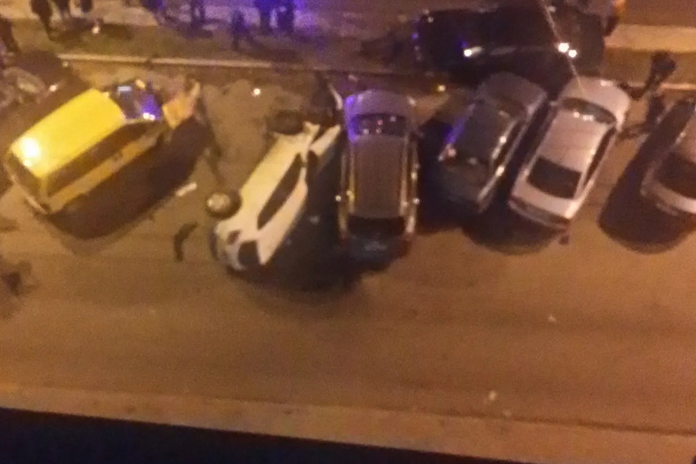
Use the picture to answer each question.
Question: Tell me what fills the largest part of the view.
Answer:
paved ground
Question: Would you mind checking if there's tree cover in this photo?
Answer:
No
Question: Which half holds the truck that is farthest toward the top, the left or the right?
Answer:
right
